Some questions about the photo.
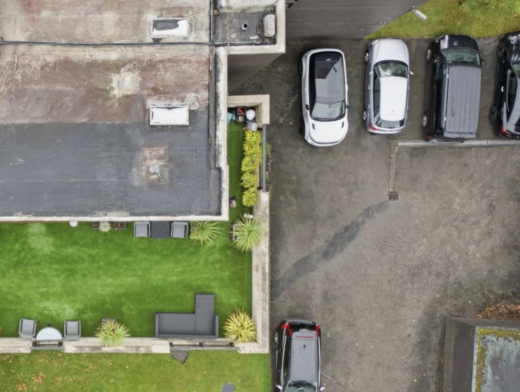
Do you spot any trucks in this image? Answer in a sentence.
No, there isn't any truck down there.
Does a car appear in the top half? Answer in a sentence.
Yes, you'll find a car in the top half.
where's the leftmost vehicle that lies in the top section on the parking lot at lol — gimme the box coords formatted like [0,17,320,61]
[298,49,353,149]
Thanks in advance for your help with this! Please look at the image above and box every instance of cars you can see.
[358,39,414,136]
[298,49,353,149]
[420,36,483,143]
[273,318,325,392]
[484,31,520,140]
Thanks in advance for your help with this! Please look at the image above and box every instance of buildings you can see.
[440,319,520,392]
[0,0,427,353]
